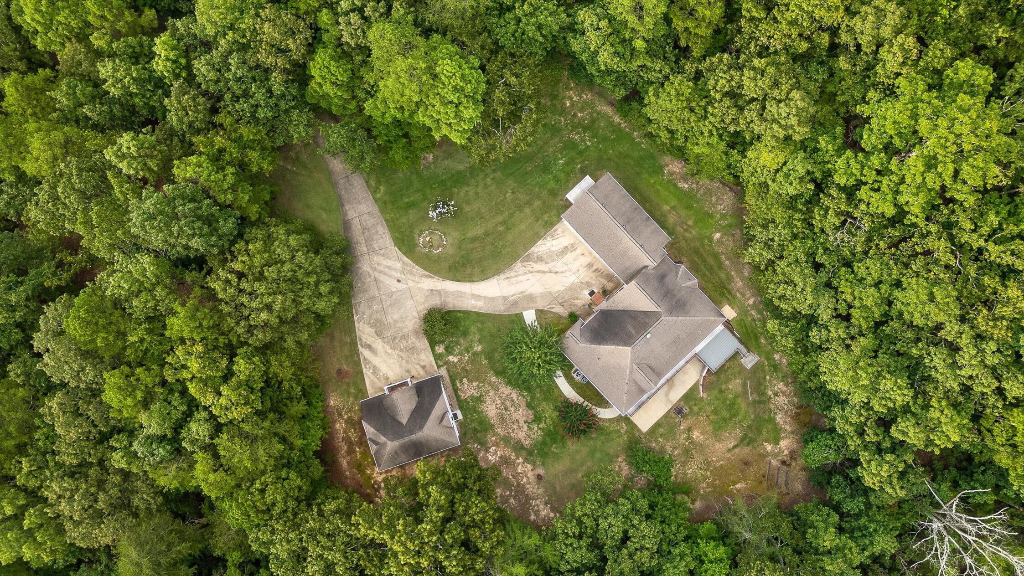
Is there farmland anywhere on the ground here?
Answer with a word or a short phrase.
No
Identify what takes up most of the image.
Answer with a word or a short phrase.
trees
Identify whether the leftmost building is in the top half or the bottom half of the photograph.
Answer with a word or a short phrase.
bottom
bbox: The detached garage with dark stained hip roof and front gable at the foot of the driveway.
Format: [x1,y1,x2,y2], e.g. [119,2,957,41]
[360,373,461,473]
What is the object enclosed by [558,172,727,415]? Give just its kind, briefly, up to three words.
house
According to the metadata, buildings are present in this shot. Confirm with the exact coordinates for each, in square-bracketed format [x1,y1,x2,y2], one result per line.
[558,172,727,415]
[360,373,461,473]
